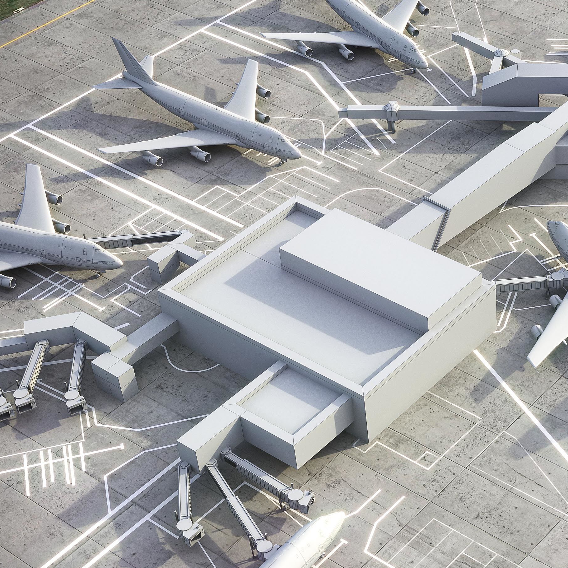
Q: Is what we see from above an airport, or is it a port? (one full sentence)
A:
The area seen from above is an airport.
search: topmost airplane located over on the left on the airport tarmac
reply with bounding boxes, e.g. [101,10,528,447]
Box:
[89,37,302,166]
